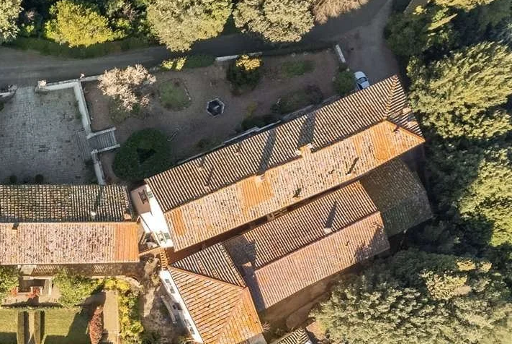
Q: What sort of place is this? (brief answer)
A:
residential area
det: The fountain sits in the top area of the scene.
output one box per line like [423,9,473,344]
[206,98,224,116]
